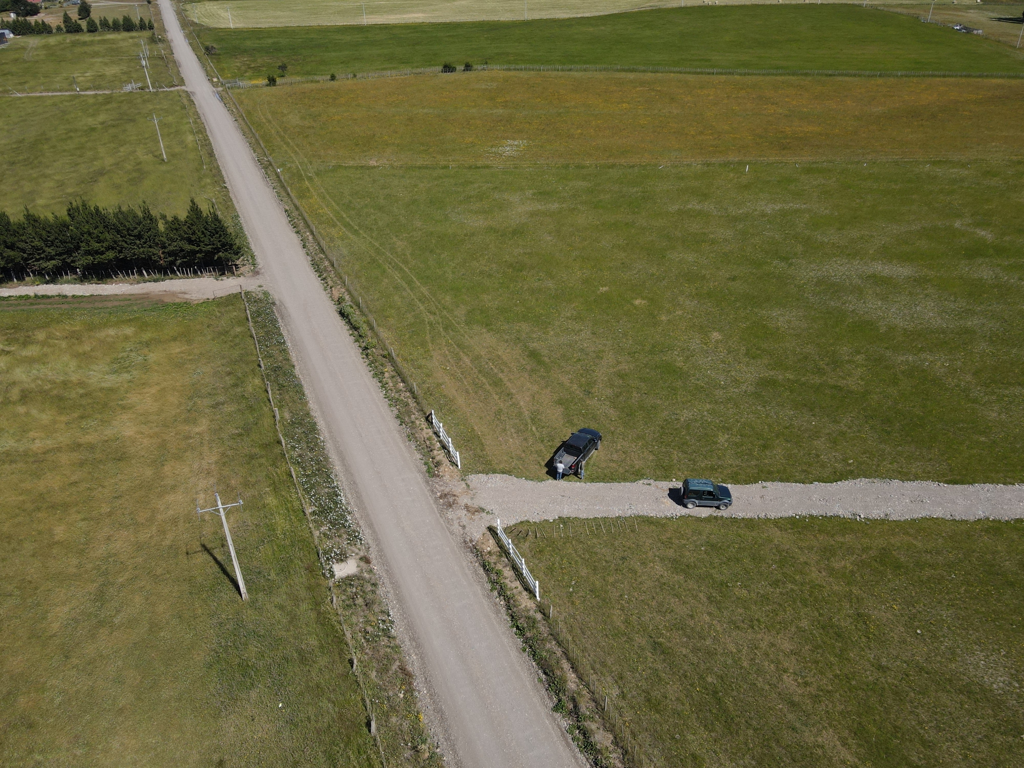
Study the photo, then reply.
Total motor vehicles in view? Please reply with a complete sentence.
In total, there are 2 motor vehicles in the scene.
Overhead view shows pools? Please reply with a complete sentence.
No, there isn't any pool down there.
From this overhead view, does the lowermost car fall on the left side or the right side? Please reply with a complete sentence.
The lowermost car is on the right side of the image.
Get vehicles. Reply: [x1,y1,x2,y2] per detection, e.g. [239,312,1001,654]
[553,429,602,472]
[680,478,734,510]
